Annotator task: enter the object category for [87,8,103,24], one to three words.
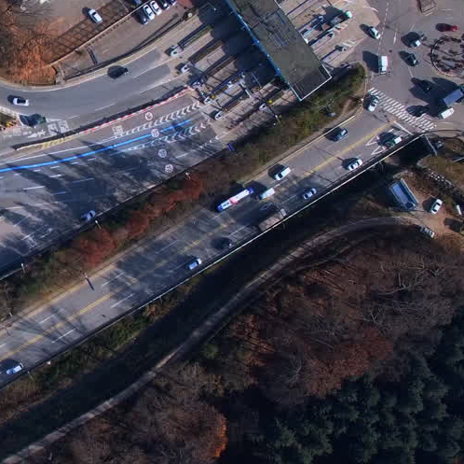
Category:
car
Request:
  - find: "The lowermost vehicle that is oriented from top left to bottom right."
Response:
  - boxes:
[419,224,437,239]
